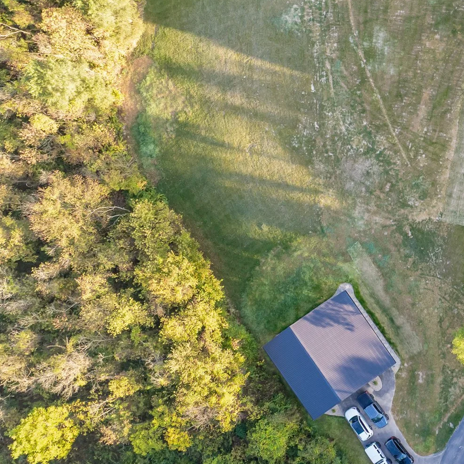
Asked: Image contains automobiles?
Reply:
Yes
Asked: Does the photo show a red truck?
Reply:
No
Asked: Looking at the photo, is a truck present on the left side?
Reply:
No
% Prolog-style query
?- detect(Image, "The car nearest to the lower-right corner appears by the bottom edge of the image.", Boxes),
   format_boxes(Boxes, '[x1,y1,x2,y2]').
[385,434,415,464]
